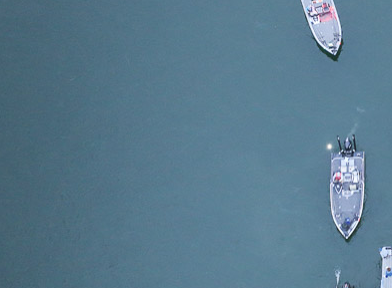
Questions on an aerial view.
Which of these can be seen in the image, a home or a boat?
boat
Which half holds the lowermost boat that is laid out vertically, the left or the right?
right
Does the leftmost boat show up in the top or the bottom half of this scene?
top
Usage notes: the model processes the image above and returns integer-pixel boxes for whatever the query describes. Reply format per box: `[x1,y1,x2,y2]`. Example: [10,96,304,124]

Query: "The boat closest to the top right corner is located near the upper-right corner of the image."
[302,0,341,57]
